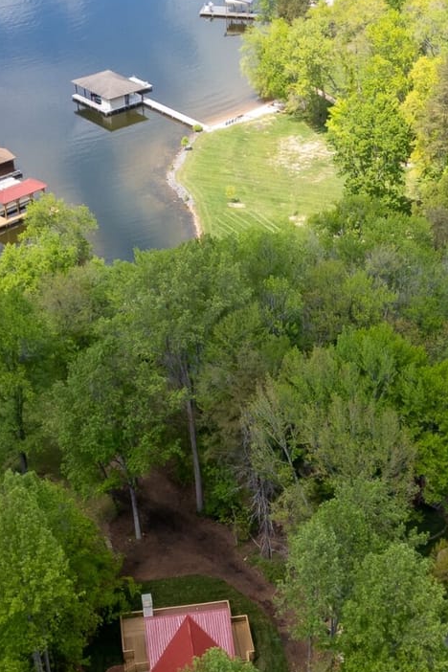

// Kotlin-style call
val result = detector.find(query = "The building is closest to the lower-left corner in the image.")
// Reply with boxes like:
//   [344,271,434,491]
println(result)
[111,603,246,672]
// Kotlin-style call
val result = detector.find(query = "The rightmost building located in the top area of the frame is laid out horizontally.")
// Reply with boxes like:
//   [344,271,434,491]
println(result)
[58,76,209,133]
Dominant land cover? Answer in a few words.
trees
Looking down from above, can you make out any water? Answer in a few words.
Yes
